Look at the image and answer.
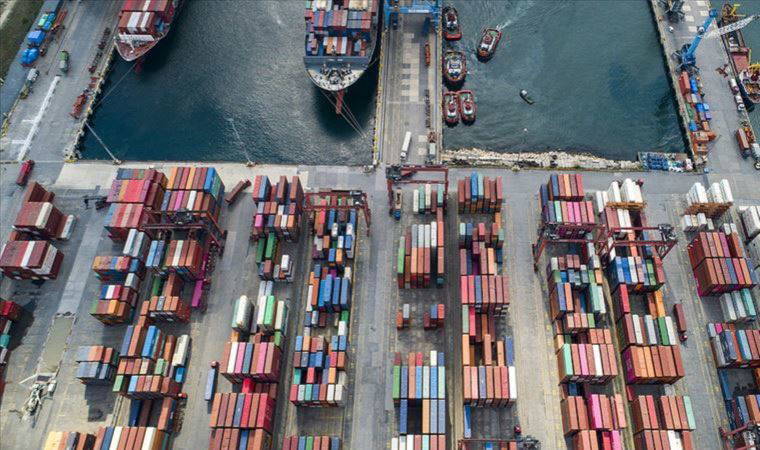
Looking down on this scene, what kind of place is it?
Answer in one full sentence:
This looks like a port.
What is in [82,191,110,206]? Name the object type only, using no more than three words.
work vehicle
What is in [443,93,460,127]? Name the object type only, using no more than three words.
boat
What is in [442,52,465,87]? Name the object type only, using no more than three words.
boat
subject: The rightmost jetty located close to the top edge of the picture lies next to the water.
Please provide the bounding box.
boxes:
[646,0,760,169]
